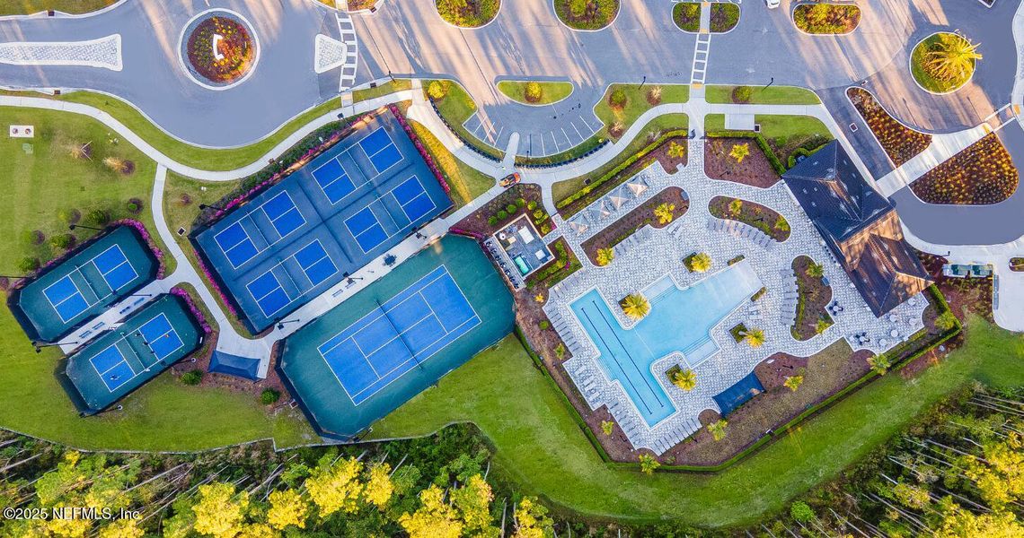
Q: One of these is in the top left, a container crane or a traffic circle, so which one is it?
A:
traffic circle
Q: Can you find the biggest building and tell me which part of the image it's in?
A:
right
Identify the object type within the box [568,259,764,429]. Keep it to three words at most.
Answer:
swimming pool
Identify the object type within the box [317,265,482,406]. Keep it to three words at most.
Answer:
tennis court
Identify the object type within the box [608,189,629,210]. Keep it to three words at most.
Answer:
umbrella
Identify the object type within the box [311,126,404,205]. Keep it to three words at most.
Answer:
sports court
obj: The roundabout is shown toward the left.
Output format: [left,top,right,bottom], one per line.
[178,7,260,89]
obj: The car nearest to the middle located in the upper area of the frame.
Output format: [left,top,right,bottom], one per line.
[498,170,522,189]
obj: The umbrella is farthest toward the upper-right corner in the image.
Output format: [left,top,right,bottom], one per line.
[627,176,647,196]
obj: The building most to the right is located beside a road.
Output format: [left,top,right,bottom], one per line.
[776,138,933,319]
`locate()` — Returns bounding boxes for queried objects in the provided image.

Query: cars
[498,170,522,189]
[768,0,781,8]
